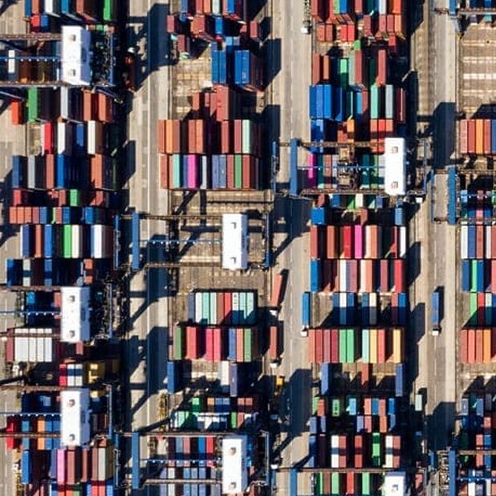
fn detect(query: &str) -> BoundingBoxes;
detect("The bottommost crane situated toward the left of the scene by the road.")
[115,412,272,492]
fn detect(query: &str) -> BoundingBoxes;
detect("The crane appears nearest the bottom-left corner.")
[0,371,129,448]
